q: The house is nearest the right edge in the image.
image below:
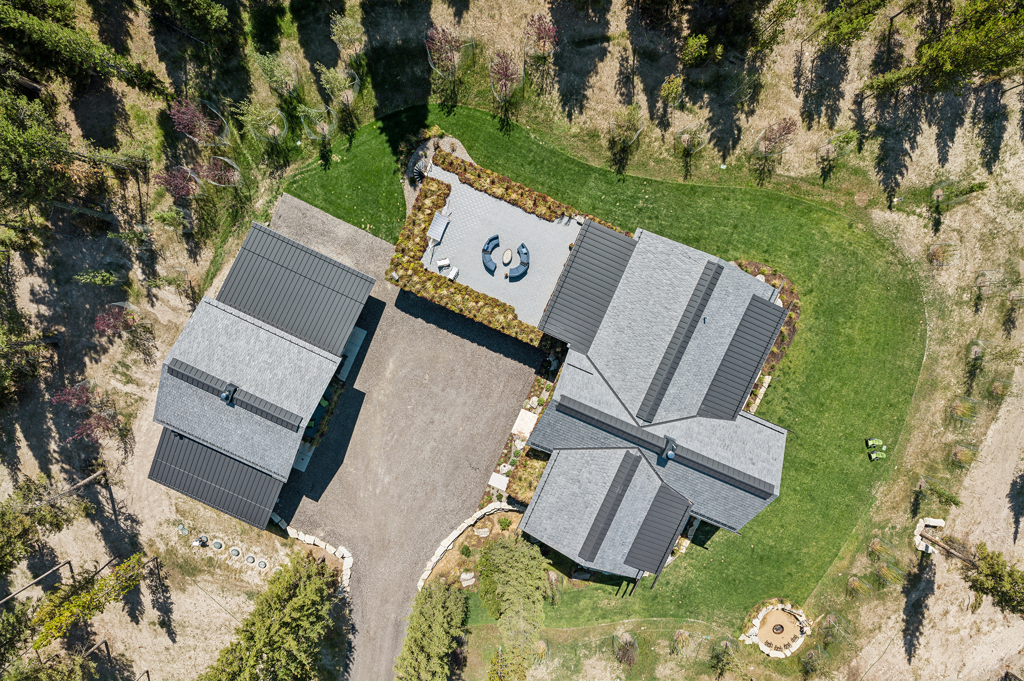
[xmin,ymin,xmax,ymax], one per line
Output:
[514,219,795,596]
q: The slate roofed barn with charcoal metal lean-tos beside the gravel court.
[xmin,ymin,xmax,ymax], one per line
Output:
[147,220,376,532]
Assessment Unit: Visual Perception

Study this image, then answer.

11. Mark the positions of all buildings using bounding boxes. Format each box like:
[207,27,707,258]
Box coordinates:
[514,219,795,596]
[147,220,376,532]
